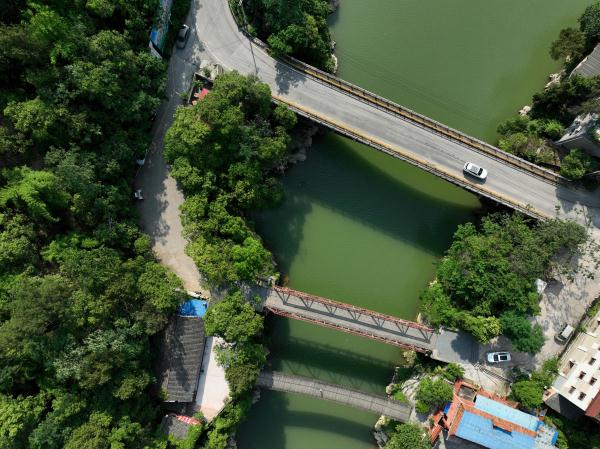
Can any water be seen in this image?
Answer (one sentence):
Yes, the picture does contain water.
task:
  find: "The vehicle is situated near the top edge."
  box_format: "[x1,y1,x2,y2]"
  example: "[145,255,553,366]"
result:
[175,22,189,48]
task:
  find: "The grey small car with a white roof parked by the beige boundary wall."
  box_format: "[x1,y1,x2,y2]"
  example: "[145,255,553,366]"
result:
[556,324,578,345]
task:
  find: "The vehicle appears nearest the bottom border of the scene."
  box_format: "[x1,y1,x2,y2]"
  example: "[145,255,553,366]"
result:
[488,352,513,365]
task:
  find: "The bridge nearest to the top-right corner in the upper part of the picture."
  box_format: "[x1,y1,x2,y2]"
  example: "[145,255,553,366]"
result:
[270,57,576,225]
